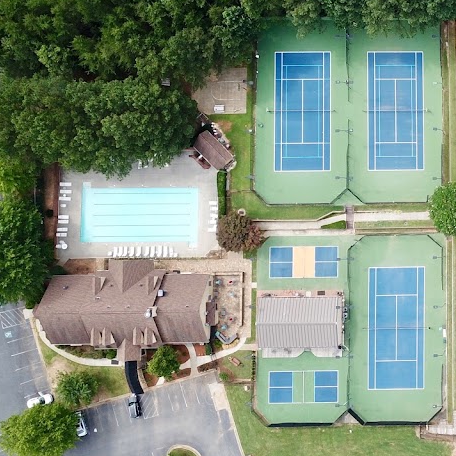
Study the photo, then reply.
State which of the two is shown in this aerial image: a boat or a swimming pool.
swimming pool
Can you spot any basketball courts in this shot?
Yes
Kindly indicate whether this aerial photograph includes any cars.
Yes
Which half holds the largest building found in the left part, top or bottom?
bottom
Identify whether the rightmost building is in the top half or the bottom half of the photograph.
bottom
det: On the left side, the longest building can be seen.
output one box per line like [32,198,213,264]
[35,259,223,363]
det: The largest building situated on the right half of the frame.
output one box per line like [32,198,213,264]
[253,288,347,357]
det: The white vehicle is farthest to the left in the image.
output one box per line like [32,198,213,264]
[28,390,54,407]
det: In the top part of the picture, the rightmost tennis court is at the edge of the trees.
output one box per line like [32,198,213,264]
[348,16,442,202]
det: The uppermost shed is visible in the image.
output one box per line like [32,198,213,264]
[193,130,235,170]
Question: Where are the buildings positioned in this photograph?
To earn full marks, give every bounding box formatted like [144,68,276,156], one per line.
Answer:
[193,130,235,170]
[253,288,347,357]
[35,259,223,363]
